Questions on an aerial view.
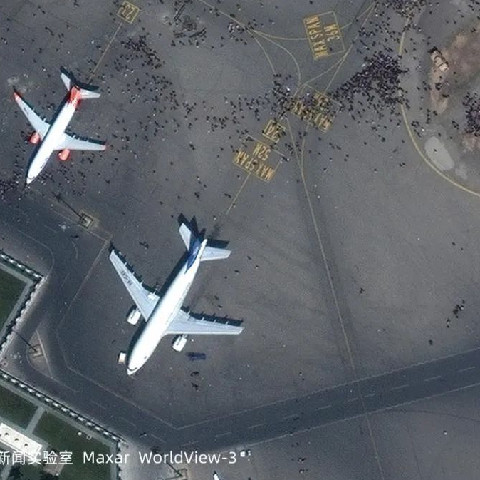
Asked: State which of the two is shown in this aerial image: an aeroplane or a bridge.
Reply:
aeroplane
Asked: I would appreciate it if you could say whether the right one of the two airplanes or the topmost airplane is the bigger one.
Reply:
the right one of the two airplanes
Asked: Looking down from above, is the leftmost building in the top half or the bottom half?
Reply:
bottom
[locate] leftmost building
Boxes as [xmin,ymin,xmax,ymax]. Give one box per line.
[0,422,42,457]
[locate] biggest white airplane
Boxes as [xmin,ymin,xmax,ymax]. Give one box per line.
[109,222,242,372]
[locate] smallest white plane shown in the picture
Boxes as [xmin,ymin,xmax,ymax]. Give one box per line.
[13,73,106,183]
